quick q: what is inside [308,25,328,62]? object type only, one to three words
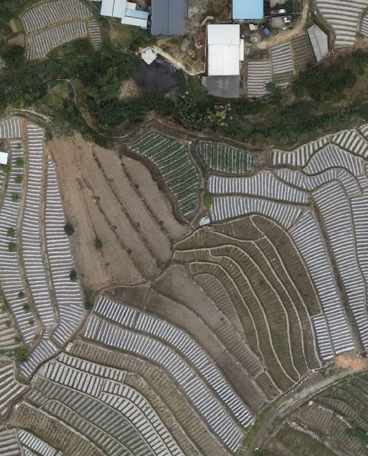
shed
